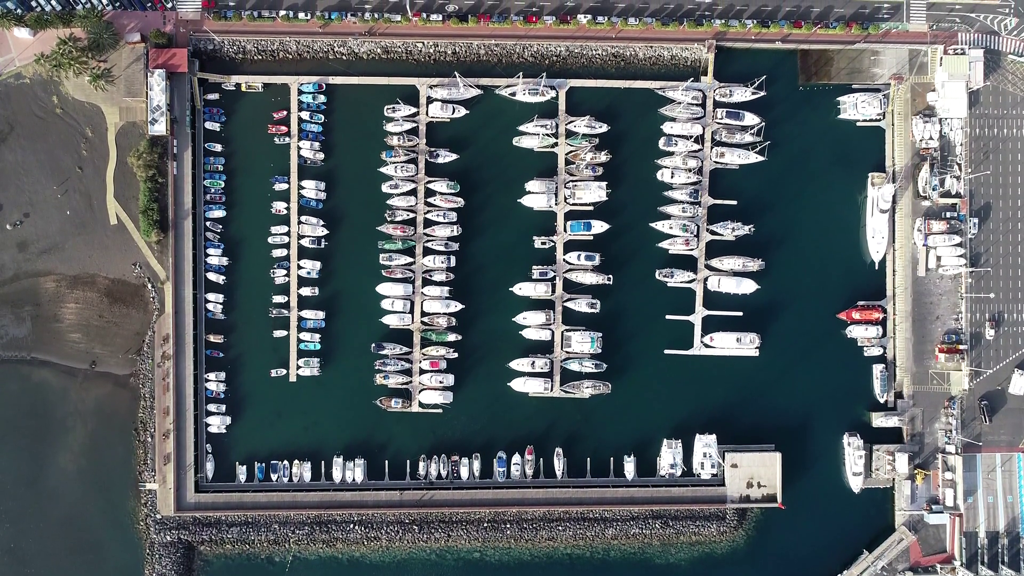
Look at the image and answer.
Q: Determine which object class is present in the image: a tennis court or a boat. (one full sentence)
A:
It is a boat that can be seen here.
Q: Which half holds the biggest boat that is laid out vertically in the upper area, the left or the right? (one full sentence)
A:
It is on the right.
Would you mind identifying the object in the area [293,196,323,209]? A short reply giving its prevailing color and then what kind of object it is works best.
blue boat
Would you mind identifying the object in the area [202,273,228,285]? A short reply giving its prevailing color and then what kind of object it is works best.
white boat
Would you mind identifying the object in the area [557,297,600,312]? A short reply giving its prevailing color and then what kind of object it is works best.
white boat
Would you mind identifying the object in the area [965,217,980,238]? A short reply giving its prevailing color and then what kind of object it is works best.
white vehicle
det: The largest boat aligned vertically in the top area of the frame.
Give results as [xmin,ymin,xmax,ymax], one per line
[867,168,902,269]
